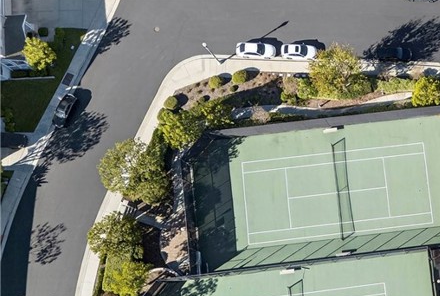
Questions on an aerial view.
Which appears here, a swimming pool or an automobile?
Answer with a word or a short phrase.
automobile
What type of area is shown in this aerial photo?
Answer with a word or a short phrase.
sports ground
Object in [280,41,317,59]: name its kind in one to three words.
car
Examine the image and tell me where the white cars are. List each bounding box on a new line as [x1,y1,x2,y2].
[280,41,317,59]
[237,40,274,58]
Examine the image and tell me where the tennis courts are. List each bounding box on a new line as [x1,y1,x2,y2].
[193,114,440,276]
[154,246,432,296]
